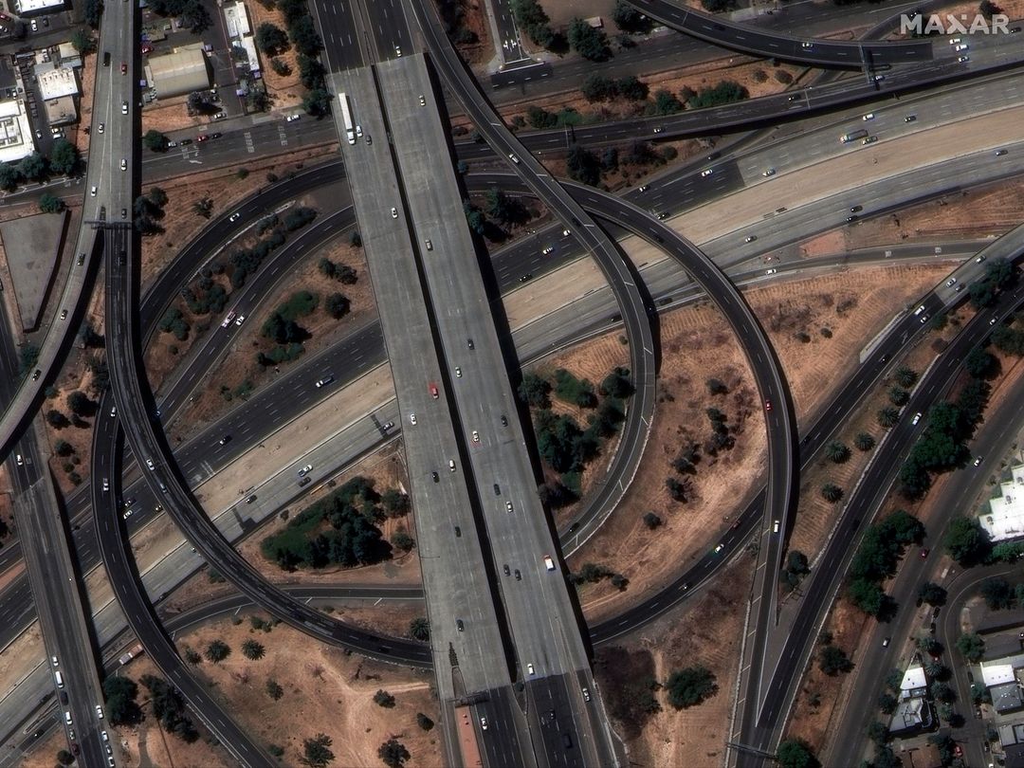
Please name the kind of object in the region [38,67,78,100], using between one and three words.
building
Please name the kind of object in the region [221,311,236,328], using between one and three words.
vehicle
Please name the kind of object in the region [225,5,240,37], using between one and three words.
shed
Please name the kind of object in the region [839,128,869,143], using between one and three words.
vehicle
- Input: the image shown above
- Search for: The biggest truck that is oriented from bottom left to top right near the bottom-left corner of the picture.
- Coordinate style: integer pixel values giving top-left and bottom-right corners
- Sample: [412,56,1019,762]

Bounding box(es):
[113,645,144,667]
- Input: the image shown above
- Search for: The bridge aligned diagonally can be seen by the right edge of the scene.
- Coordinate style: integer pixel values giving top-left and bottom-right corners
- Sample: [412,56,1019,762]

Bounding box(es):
[864,223,1024,389]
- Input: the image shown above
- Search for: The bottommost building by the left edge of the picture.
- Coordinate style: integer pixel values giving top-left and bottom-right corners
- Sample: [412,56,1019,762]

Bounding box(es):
[0,210,67,331]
